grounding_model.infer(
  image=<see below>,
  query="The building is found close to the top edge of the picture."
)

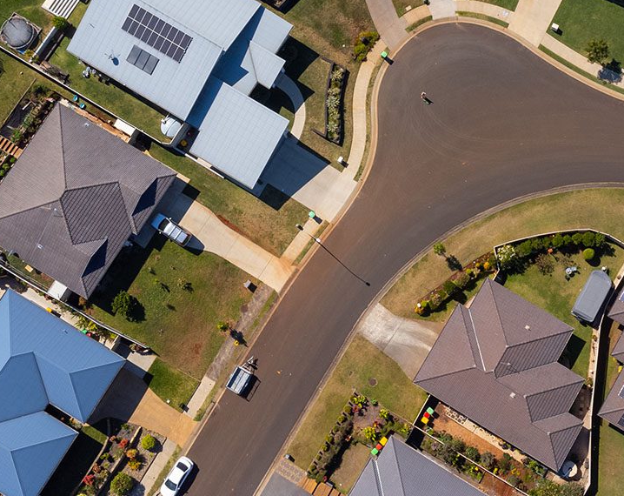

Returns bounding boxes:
[66,0,294,189]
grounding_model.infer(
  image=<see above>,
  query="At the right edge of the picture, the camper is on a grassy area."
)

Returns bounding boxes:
[571,267,608,325]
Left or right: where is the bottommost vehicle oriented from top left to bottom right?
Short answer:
left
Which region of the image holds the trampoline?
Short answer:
top left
